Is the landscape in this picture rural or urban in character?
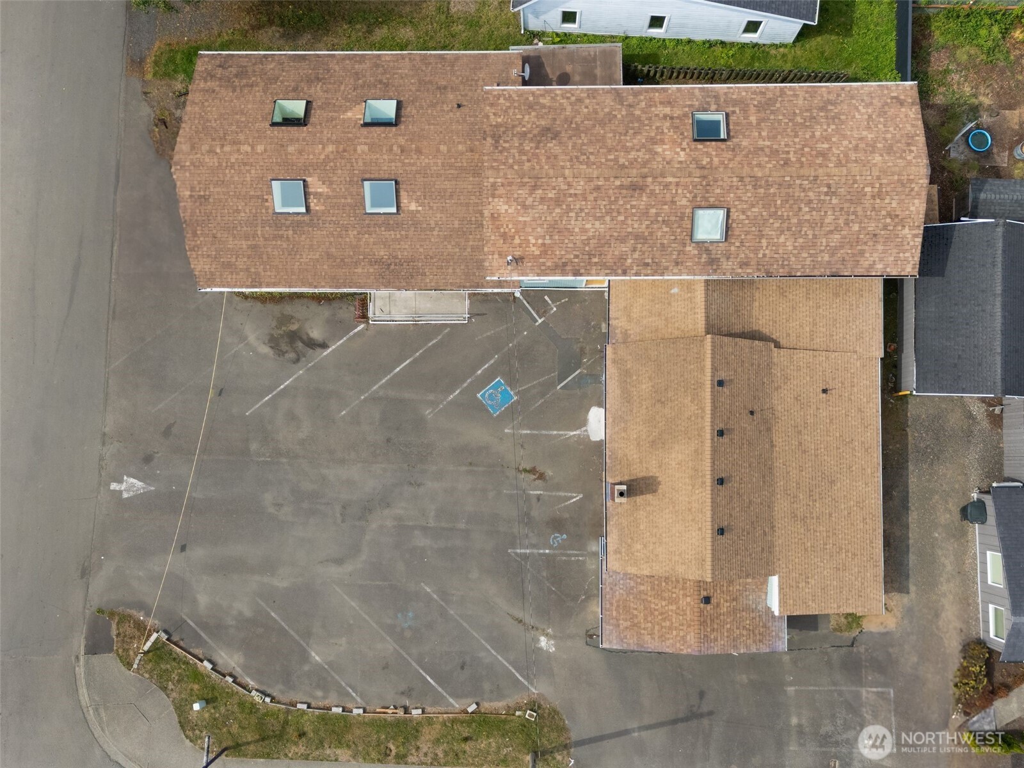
urban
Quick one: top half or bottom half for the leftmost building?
top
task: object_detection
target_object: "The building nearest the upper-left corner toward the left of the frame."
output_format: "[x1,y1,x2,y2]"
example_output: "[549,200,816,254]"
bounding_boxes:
[176,51,522,294]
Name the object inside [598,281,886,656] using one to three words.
house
